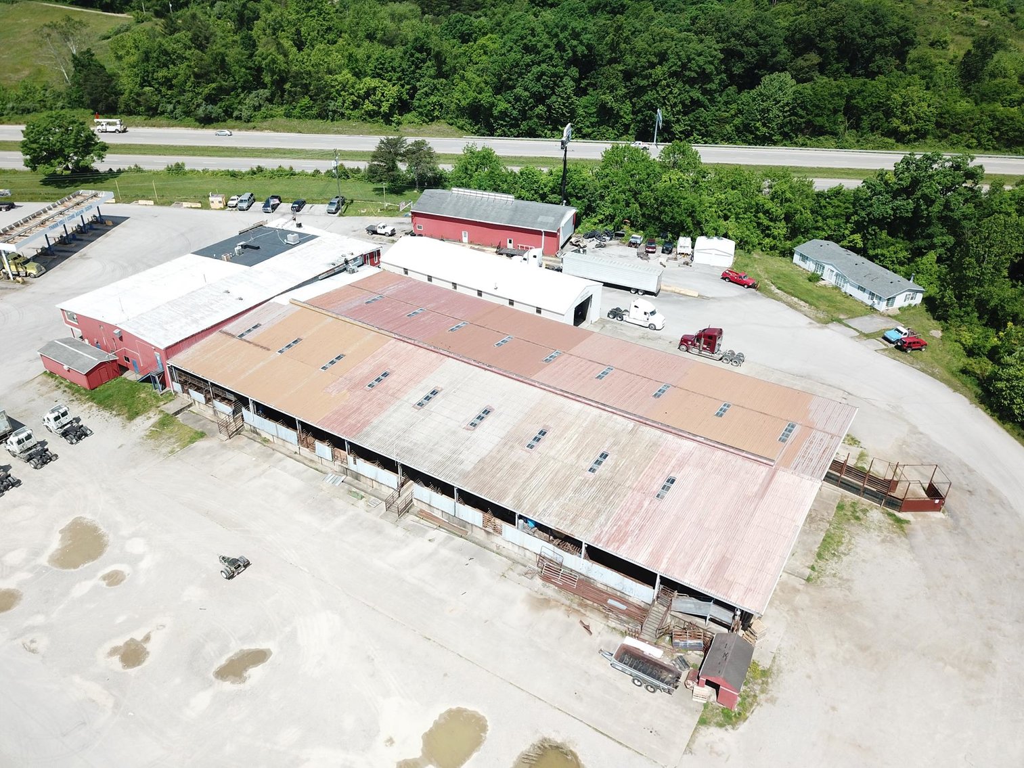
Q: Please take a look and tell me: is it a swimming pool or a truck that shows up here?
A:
truck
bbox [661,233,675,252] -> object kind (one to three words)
car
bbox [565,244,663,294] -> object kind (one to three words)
trailer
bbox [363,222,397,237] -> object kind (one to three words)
vehicle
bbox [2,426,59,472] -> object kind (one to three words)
truck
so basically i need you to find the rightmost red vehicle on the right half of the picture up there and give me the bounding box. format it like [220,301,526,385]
[895,334,933,353]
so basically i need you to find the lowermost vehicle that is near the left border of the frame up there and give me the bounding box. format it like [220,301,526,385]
[0,464,23,498]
